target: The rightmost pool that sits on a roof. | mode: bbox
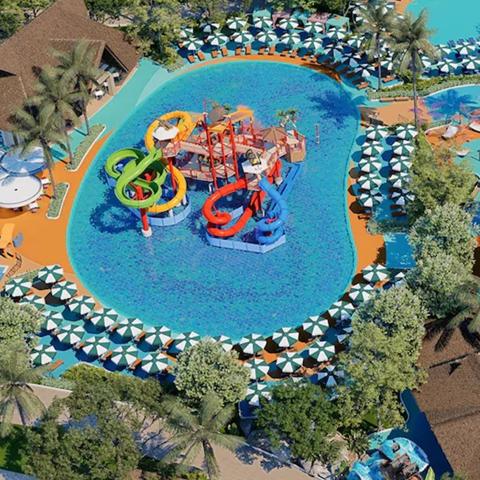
[72,62,357,337]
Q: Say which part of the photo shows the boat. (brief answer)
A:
bottom right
